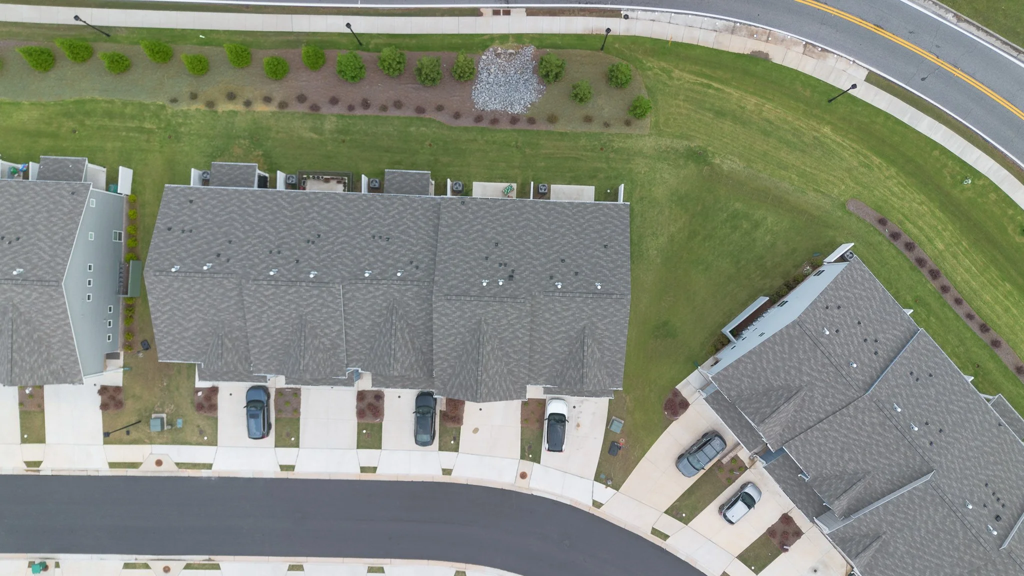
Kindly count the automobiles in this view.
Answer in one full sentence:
Altogether the scene contains 5 automobiles.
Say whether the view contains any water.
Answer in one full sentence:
No, water can't be seen anywhere here.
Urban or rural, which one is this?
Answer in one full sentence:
It looks urban.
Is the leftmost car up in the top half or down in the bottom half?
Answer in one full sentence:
Seen from above, the leftmost car lies in the bottom half of the view.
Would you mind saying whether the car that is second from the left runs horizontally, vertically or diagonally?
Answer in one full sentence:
The car that is second from the left runs vertically in the image.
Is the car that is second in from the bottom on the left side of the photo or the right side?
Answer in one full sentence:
You can find the car that is second in from the bottom on the right side of the picture.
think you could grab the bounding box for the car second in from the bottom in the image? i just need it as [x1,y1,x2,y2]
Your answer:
[677,432,728,479]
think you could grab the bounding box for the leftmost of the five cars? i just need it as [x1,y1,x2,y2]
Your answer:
[240,387,271,442]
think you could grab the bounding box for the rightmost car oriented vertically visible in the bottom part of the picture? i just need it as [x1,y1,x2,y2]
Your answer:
[543,400,570,454]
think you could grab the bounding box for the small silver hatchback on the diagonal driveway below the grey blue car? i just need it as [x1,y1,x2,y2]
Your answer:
[720,485,763,527]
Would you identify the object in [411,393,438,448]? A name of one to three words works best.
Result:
car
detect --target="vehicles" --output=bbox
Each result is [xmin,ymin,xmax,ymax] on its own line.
[543,400,570,454]
[411,393,438,448]
[240,387,271,442]
[720,485,763,527]
[677,432,728,479]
